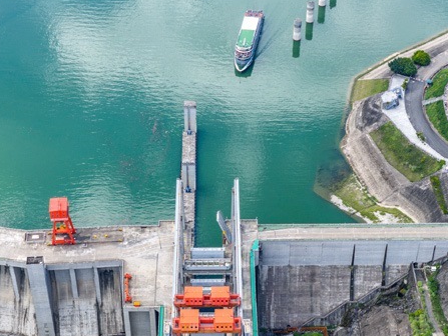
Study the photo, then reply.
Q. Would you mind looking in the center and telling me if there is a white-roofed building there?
No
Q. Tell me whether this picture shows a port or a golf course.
port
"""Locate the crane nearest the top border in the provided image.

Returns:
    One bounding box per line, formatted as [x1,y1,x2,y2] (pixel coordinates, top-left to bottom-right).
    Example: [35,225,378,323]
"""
[48,194,78,247]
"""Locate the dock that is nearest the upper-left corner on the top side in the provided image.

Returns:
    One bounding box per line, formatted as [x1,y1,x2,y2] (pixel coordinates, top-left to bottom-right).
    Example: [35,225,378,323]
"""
[184,102,197,135]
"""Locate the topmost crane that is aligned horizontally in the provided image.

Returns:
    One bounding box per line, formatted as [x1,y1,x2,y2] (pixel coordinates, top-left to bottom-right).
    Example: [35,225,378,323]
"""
[167,285,246,311]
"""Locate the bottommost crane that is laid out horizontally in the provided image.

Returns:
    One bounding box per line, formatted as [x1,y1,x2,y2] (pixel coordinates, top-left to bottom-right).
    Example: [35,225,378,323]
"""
[167,309,247,336]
